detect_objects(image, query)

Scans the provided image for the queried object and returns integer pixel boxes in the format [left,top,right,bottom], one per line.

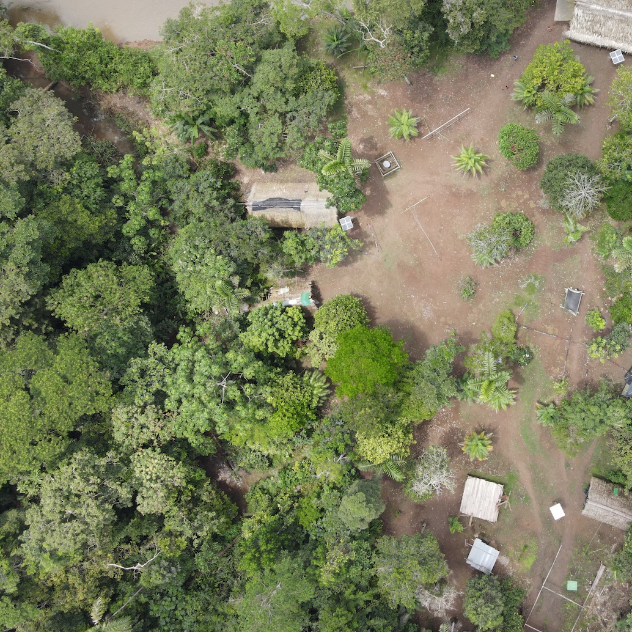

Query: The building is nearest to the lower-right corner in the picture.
[581,473,632,530]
